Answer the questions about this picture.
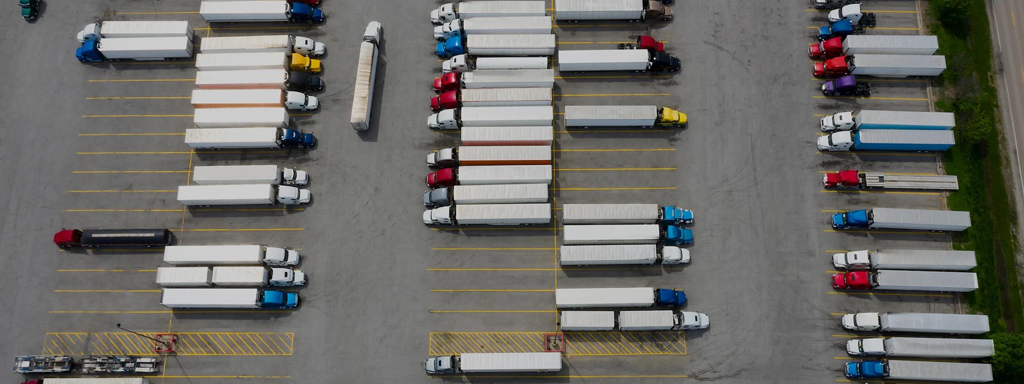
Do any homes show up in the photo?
No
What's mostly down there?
paved ground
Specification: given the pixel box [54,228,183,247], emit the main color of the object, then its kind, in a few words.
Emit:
black vehicle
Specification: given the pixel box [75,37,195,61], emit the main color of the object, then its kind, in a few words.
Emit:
white truck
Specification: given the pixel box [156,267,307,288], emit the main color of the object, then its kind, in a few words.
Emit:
white truck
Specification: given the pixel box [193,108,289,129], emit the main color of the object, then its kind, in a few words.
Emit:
white trailer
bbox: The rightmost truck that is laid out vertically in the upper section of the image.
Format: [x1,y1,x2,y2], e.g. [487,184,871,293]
[351,21,381,132]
